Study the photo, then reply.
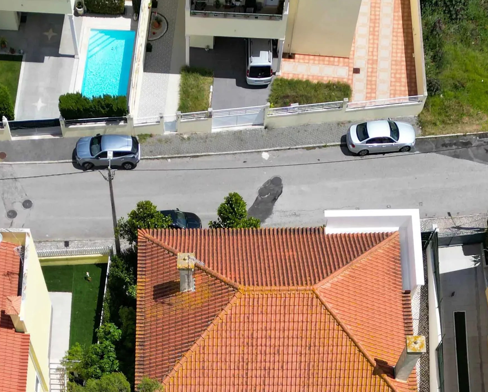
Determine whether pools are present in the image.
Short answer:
Yes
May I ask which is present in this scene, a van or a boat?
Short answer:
van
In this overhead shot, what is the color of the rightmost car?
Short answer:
white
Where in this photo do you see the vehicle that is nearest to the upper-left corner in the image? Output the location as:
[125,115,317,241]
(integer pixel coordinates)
[73,135,141,171]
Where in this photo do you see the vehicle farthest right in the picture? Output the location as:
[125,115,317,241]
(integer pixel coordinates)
[345,122,417,157]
